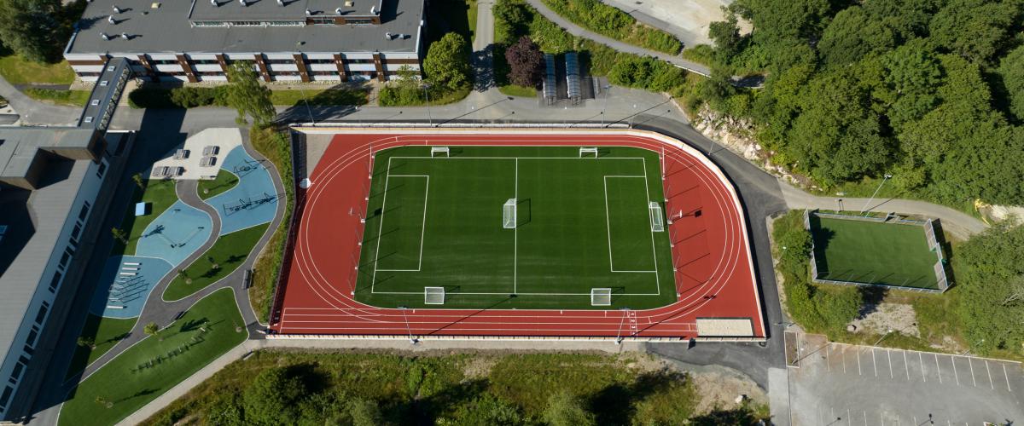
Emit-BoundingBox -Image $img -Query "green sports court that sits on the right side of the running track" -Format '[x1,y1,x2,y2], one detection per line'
[808,206,953,290]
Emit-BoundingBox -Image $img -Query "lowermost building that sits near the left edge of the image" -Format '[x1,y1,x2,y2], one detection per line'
[0,125,139,426]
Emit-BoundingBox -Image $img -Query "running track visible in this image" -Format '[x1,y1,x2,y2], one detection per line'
[269,130,766,339]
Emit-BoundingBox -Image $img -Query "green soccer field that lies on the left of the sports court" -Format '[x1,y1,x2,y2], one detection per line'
[352,146,679,310]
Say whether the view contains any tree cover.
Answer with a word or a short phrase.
Yes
